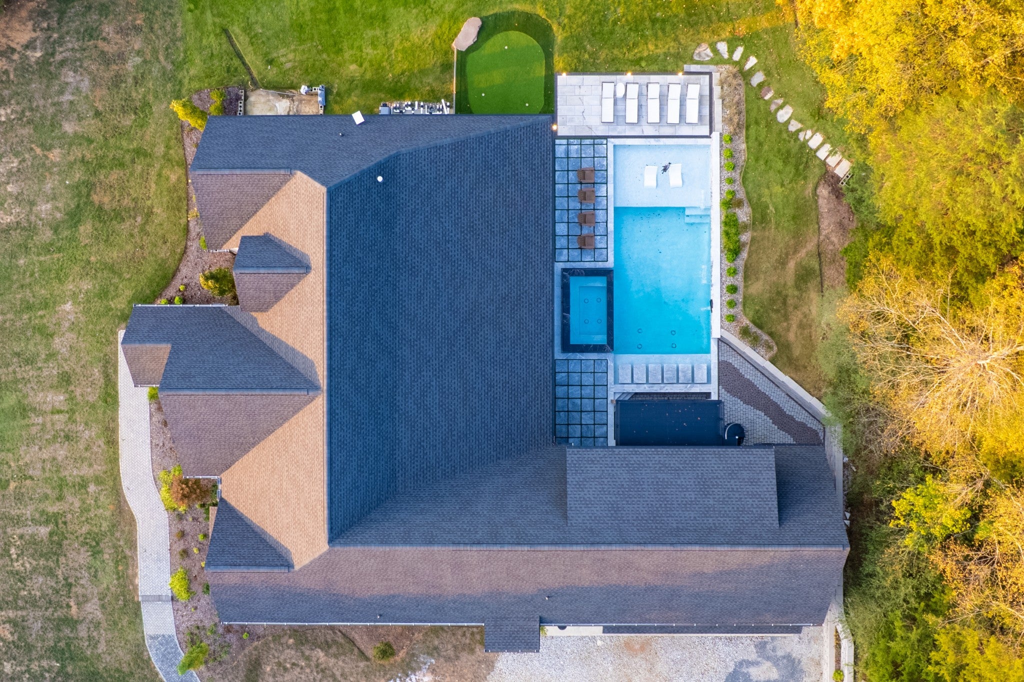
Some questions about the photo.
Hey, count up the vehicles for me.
0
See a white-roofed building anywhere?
No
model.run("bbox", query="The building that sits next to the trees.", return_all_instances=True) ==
[121,113,849,656]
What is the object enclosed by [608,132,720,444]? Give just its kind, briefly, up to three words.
swimming pool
